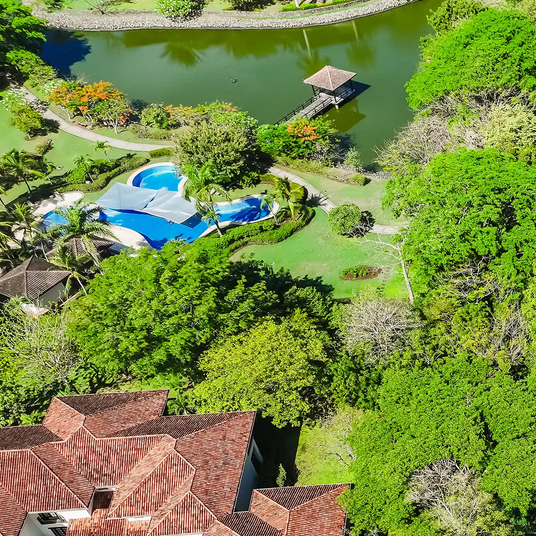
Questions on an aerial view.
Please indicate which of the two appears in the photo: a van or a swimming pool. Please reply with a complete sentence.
There is a swimming pool in the scene.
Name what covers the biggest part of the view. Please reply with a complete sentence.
For the most part, this view shows trees.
